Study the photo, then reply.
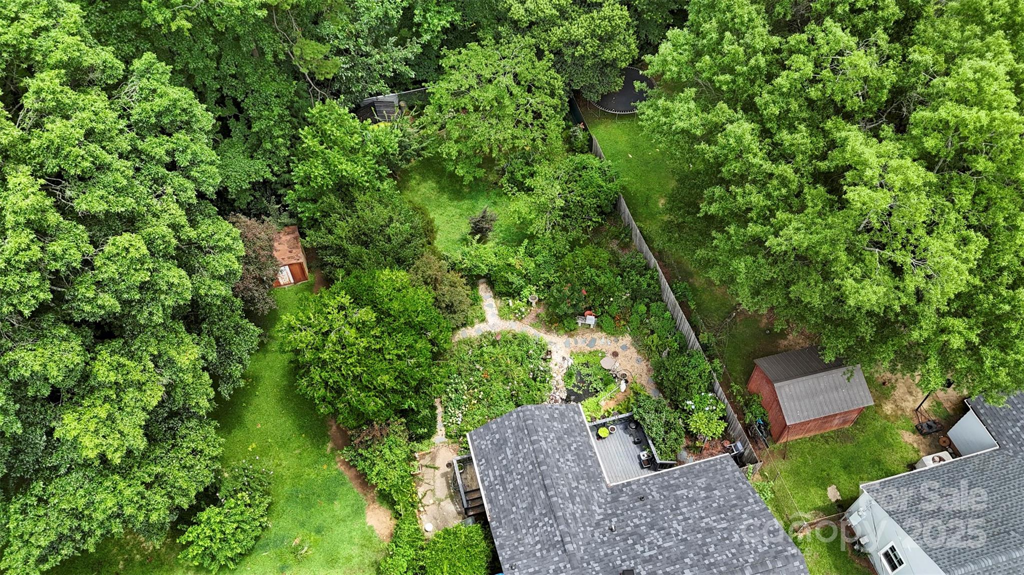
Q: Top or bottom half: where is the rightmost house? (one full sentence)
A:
The bottom half of the photo is where the rightmost house is.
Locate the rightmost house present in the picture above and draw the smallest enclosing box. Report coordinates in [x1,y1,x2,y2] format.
[849,376,1024,575]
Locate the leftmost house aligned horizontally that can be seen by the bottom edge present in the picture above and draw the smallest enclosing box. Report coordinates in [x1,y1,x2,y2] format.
[464,406,808,575]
